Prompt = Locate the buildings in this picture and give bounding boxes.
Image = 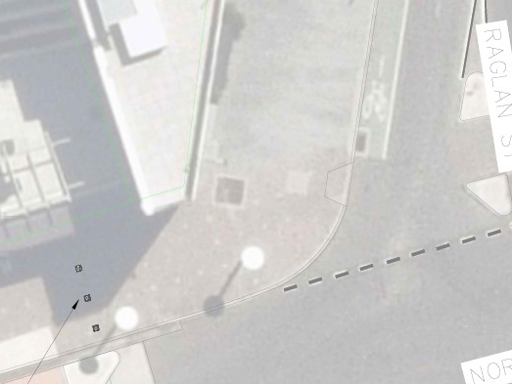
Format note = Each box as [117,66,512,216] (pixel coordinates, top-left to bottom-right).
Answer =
[0,0,85,248]
[101,0,245,218]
